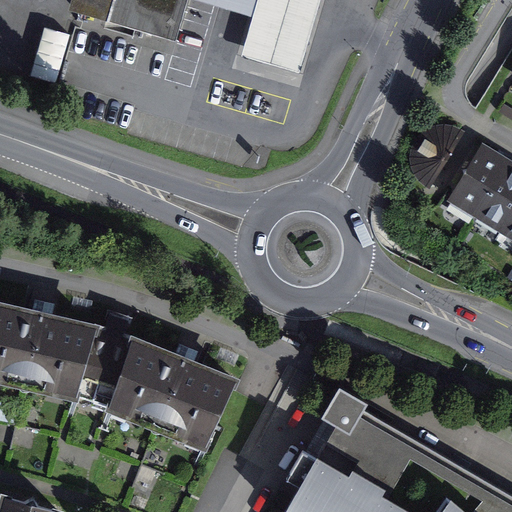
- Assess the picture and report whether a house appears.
Yes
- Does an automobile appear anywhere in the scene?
Yes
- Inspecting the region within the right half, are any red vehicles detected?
Yes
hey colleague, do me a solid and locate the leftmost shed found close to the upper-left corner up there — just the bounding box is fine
[30,28,70,82]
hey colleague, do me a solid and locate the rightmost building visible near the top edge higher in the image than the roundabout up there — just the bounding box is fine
[242,0,320,72]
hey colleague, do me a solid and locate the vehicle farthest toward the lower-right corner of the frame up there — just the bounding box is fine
[418,428,440,446]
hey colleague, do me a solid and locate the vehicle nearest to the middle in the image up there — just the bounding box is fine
[254,232,266,255]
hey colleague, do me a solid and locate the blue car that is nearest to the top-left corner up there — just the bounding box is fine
[100,40,112,61]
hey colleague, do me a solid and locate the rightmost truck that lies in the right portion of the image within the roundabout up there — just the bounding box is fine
[350,211,374,248]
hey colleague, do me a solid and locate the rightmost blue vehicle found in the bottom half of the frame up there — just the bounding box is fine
[464,338,486,354]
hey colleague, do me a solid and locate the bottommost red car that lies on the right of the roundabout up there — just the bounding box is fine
[454,305,478,322]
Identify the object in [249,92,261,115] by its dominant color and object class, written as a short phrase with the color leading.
white vehicle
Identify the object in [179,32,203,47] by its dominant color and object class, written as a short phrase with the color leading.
white vehicle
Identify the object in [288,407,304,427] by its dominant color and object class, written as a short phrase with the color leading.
red car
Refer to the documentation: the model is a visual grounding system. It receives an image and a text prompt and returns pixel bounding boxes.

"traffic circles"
[236,180,375,319]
